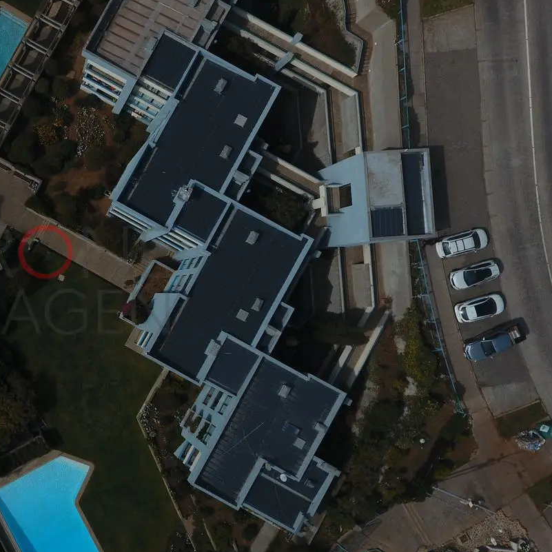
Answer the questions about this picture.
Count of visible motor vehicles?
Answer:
4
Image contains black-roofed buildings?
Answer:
Yes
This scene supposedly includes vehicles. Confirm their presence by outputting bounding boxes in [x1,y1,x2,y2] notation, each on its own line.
[447,258,499,287]
[431,229,486,258]
[459,322,527,362]
[451,293,504,322]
